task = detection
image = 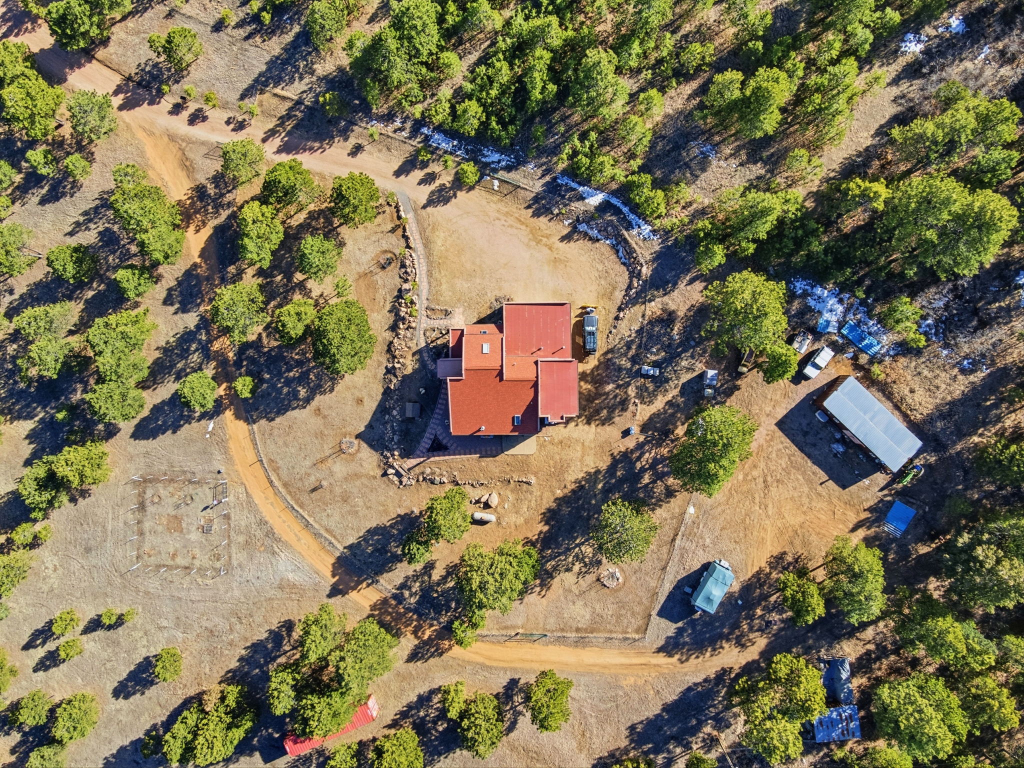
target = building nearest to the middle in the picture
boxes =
[437,302,579,436]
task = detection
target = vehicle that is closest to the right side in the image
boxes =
[899,461,931,490]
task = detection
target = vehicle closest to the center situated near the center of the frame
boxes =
[582,302,600,358]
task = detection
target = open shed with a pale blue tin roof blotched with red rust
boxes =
[806,700,861,743]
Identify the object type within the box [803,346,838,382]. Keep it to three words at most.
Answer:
car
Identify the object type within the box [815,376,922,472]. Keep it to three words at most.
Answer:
barn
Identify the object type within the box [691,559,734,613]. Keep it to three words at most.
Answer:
camper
